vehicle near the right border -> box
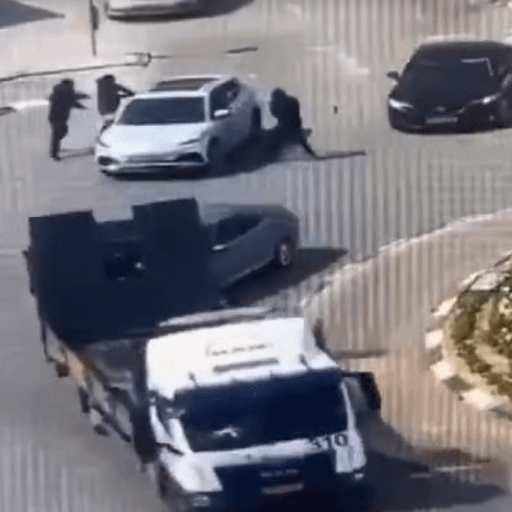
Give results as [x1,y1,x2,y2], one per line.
[384,35,512,135]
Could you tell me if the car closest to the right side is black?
Yes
